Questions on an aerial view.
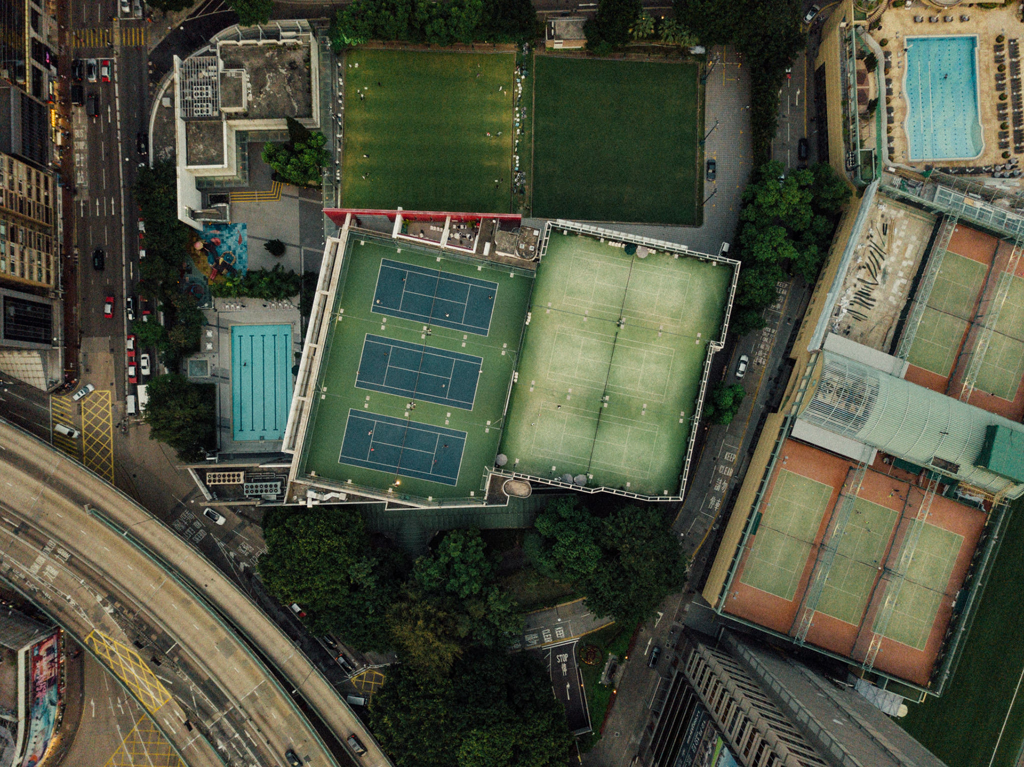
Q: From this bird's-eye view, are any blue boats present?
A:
No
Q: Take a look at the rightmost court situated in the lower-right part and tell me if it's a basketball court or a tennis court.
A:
tennis court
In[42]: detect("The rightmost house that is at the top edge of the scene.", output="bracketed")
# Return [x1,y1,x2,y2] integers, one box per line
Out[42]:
[545,16,587,55]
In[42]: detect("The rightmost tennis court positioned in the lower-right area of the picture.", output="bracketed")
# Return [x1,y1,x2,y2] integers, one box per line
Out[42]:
[871,518,964,651]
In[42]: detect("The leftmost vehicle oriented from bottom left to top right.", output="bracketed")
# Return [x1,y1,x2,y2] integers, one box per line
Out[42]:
[71,383,95,401]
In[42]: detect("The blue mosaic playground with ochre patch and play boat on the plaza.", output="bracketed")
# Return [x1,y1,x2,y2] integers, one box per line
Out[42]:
[183,223,247,307]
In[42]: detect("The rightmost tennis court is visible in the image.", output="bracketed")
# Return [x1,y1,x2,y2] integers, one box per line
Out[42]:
[961,271,1024,401]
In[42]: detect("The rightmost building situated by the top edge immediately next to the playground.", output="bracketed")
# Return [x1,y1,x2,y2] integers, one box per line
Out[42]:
[147,17,323,243]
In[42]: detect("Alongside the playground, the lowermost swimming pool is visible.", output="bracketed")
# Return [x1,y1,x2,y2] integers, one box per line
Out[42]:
[229,321,295,443]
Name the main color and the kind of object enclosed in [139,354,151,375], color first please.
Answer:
white vehicle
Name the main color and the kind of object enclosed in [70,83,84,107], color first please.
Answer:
black vehicle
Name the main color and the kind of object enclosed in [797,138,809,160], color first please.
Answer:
black vehicle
